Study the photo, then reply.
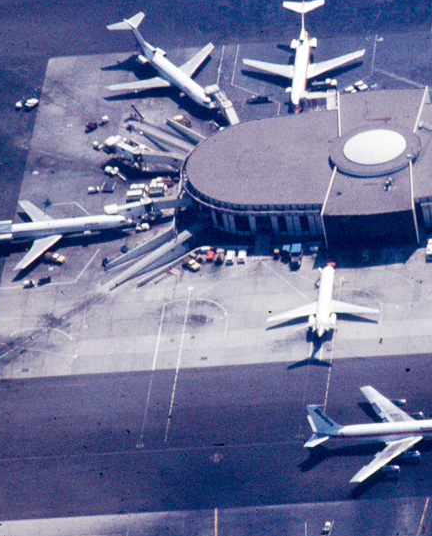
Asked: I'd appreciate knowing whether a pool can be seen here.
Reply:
No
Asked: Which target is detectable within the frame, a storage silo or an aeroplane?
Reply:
aeroplane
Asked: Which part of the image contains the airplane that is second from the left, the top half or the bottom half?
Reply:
top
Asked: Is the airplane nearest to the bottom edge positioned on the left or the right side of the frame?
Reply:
right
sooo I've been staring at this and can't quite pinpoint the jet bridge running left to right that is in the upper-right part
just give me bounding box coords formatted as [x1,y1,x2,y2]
[296,91,337,112]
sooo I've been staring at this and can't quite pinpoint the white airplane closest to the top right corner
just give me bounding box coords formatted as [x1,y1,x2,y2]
[242,0,366,111]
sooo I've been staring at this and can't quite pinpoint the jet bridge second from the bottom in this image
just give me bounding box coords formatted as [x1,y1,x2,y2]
[102,135,184,177]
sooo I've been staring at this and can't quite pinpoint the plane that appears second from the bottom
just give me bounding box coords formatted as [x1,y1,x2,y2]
[268,263,381,338]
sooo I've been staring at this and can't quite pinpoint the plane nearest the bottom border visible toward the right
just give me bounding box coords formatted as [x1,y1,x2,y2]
[302,385,432,485]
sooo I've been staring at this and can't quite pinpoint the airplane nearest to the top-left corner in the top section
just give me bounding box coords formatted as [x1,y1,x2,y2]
[105,14,214,108]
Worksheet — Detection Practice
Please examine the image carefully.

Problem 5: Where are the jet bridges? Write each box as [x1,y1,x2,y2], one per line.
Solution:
[205,84,240,126]
[100,193,186,226]
[296,91,337,112]
[102,135,184,177]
